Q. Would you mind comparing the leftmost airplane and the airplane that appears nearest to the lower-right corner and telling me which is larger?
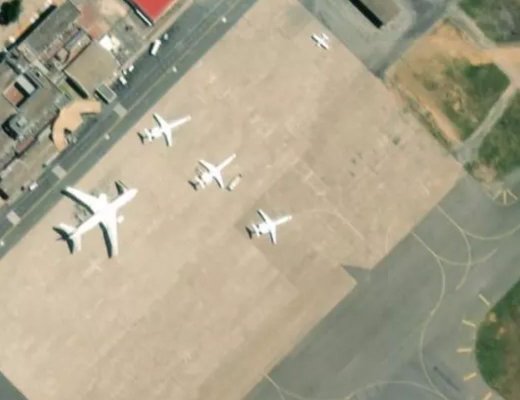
the leftmost airplane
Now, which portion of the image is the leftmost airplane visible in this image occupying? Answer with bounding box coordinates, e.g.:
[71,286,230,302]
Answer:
[53,188,137,254]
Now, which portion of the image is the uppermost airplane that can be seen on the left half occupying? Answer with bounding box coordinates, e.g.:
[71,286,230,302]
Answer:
[145,113,190,146]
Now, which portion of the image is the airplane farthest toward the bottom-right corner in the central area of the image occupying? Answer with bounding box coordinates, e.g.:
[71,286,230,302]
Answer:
[251,209,291,243]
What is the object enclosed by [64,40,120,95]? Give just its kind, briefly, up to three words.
building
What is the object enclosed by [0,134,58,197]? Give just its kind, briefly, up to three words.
building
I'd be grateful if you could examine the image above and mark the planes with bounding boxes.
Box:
[312,32,329,48]
[195,155,236,189]
[53,188,137,254]
[251,209,291,243]
[145,113,190,146]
